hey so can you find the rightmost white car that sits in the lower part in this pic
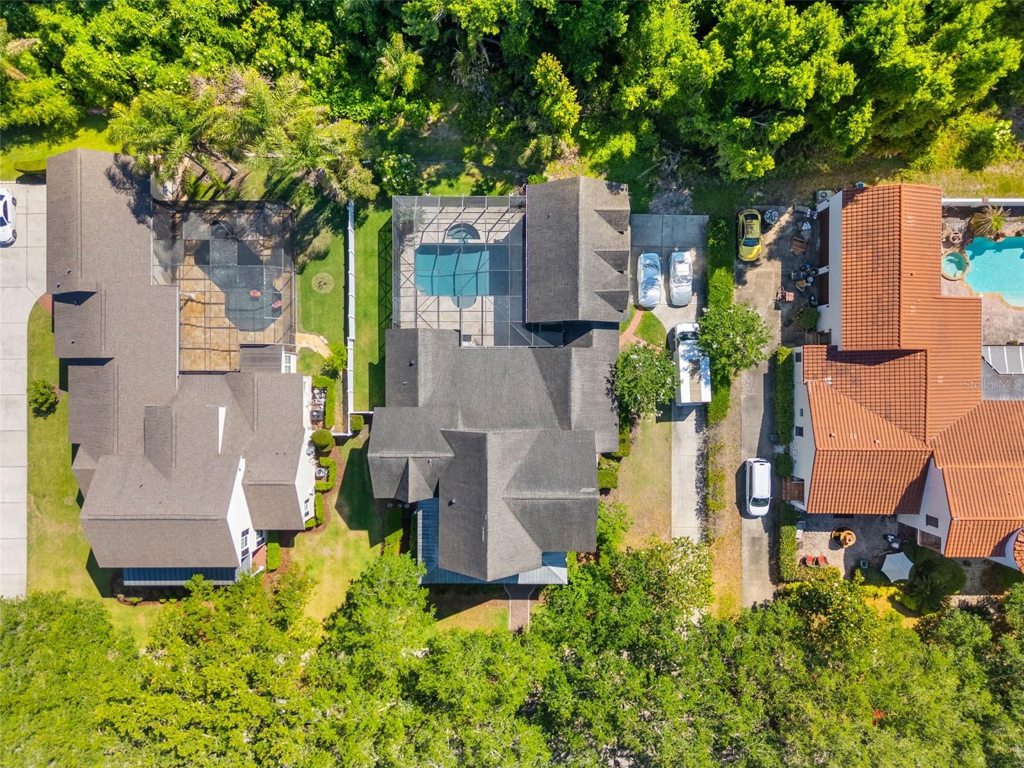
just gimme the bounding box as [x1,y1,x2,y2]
[738,458,767,513]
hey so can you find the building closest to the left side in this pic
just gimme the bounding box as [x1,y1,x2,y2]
[47,149,316,584]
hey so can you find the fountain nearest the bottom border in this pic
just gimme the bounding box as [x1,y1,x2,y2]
[827,522,855,546]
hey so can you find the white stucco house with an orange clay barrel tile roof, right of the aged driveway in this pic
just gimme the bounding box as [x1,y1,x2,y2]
[780,182,1024,572]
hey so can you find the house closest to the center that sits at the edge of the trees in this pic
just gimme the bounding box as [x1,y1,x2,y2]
[369,177,631,584]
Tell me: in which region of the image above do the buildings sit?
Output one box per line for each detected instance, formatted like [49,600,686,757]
[369,177,631,584]
[780,182,1024,572]
[47,149,316,584]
